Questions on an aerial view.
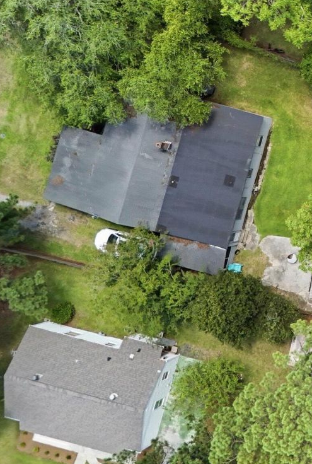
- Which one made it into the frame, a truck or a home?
home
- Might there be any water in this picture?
No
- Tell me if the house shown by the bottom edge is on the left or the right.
left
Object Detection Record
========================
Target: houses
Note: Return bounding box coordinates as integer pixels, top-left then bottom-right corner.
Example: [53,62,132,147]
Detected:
[45,87,271,275]
[4,320,182,453]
